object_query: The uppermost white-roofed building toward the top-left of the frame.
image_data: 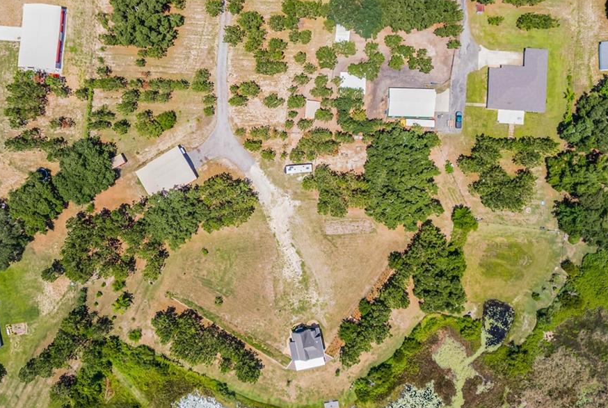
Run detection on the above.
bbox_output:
[18,3,66,73]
